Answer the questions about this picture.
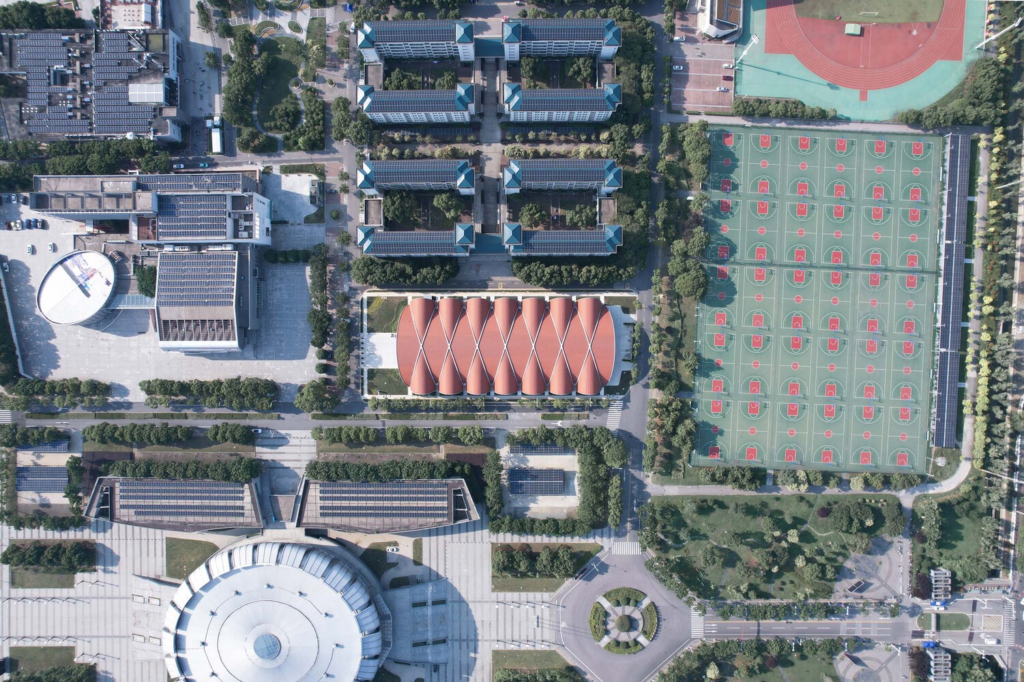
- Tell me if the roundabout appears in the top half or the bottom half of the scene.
bottom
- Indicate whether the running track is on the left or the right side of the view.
right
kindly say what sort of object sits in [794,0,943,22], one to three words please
sports field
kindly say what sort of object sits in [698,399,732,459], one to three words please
basketball court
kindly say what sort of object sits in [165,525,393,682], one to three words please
stadium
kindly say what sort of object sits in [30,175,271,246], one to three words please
building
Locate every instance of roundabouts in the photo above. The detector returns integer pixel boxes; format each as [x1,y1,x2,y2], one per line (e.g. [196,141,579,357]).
[589,587,657,654]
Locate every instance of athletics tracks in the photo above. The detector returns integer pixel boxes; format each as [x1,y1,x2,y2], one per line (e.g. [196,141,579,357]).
[765,0,966,101]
